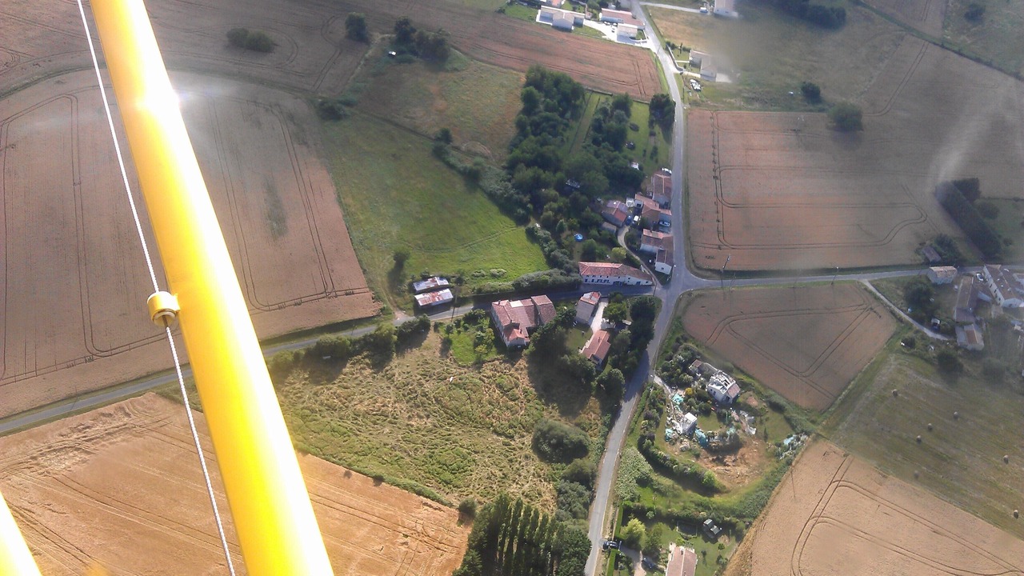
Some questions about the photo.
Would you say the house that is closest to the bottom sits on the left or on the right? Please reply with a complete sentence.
You can find the house that is closest to the bottom on the right side of the picture.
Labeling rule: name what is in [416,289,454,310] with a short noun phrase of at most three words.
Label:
barn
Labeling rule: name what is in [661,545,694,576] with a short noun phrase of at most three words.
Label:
house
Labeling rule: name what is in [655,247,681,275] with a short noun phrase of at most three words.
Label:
house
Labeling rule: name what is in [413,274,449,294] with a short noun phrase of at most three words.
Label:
barn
